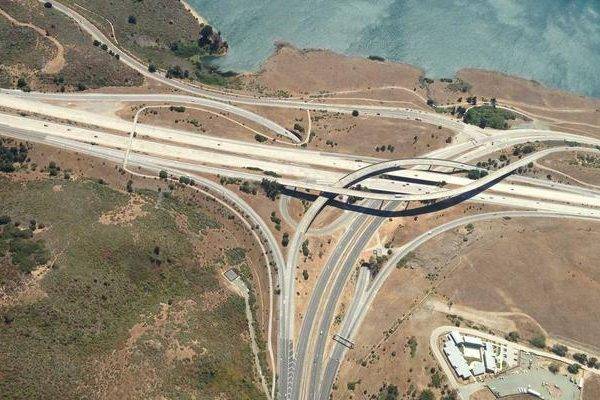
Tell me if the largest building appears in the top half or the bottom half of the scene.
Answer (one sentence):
You can find the largest building in the bottom half.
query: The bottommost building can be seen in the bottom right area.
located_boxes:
[443,330,499,380]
